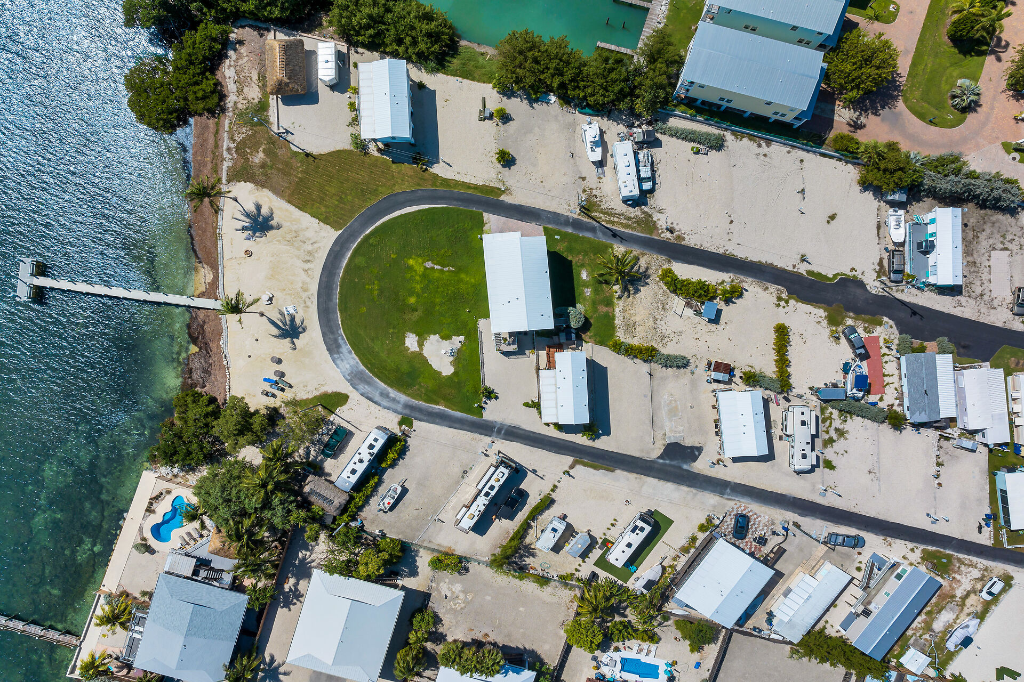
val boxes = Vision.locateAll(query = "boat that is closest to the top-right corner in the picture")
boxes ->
[885,204,906,243]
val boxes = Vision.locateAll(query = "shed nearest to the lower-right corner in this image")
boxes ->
[892,639,930,675]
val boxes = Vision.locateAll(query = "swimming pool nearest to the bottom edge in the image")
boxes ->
[601,650,671,682]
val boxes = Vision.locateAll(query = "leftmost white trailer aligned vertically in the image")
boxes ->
[318,43,340,95]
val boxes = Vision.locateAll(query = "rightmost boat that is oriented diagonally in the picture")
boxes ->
[938,620,980,655]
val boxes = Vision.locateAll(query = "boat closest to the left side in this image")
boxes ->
[375,485,400,516]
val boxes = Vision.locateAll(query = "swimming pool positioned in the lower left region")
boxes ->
[141,487,214,553]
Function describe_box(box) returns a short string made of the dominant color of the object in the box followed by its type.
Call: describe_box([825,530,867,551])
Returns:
blue vehicle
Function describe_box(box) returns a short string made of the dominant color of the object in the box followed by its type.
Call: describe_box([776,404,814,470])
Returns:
white trailer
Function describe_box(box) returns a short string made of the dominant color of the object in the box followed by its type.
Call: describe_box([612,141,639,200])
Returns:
white trailer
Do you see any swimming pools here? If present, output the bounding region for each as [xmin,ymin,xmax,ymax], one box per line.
[601,650,671,682]
[141,487,214,553]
